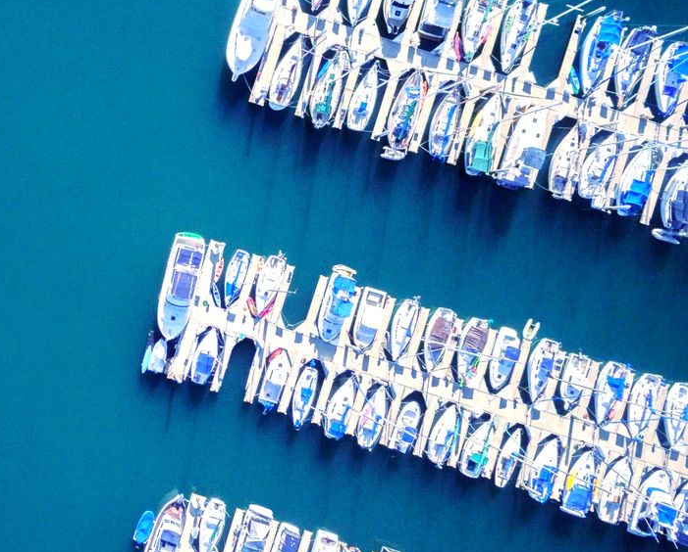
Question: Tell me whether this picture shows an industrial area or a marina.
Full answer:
This looks like a marina.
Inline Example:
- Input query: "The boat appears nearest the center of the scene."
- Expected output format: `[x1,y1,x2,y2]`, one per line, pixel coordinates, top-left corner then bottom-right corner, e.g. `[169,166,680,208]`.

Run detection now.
[333,264,359,279]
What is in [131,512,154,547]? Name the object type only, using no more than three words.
boat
